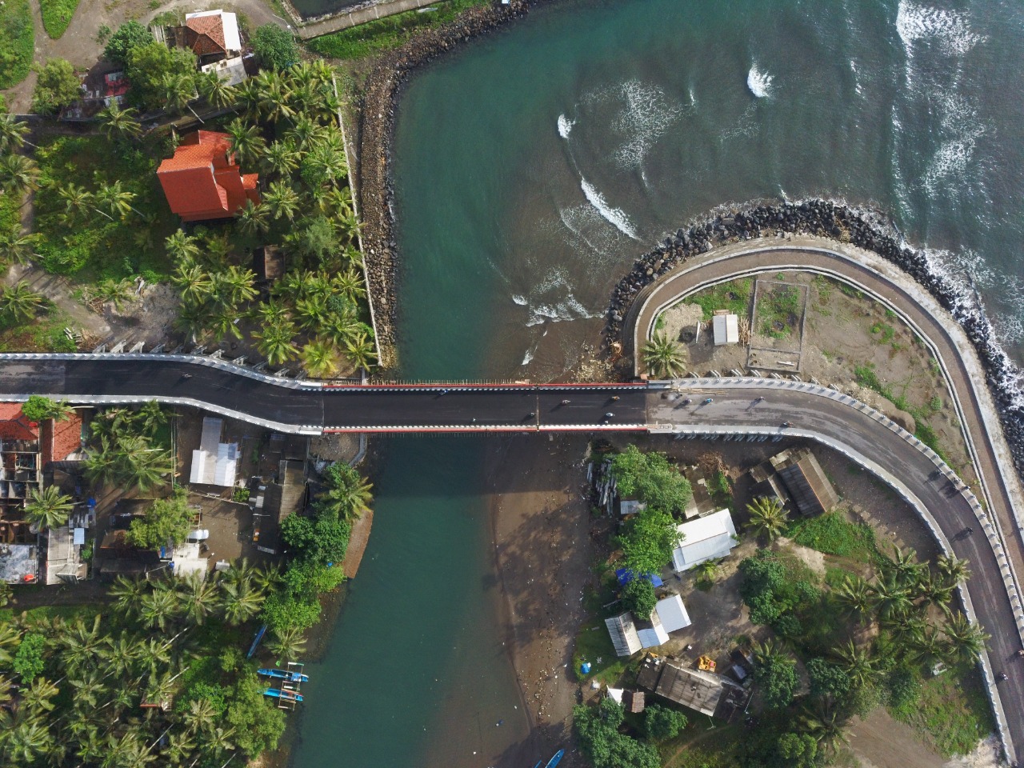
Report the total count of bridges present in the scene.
1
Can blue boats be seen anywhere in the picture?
Yes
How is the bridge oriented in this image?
from left to right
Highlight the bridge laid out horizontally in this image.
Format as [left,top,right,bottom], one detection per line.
[321,379,647,438]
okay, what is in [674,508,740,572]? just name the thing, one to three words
house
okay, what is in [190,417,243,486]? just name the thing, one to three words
shed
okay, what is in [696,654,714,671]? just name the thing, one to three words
work vehicle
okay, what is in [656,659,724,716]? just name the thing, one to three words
building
